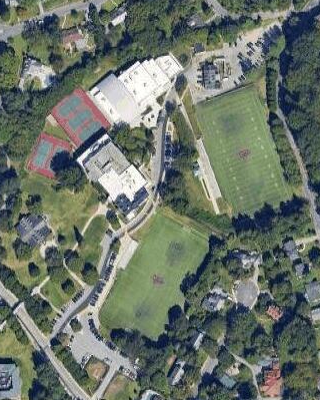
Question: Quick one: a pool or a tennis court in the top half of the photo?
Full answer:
The feature located in the top half of the photo is a tennis court.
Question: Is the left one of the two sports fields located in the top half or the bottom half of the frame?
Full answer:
The left one of the two sports fields sits in the bottom half of the picture.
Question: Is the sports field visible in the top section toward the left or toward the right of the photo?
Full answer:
The sports field visible in the top section sits on the right side.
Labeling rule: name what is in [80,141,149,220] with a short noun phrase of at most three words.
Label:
building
